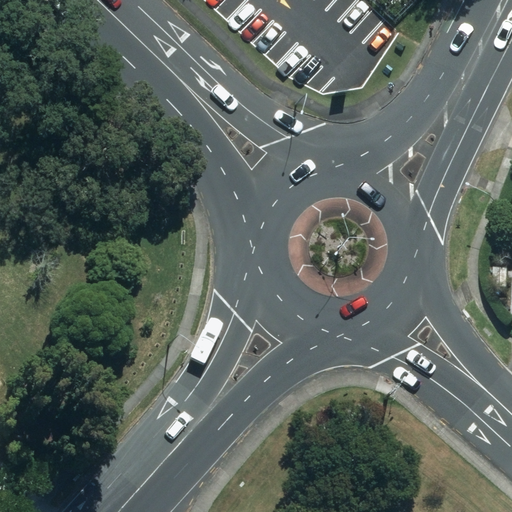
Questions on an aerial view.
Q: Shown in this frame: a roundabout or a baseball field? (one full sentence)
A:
I can see a roundabout in this picture.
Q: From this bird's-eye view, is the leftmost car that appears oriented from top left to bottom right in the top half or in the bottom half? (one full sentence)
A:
Seen from above, the leftmost car that appears oriented from top left to bottom right lies in the top half of the view.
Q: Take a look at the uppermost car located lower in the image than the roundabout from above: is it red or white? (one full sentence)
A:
The uppermost car located lower in the image than the roundabout looks red in the image.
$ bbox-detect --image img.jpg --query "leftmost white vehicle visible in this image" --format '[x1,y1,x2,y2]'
[165,412,192,441]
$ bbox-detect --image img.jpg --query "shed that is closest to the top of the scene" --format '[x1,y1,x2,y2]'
[492,266,508,288]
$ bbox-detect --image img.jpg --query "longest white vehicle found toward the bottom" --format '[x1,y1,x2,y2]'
[188,318,223,366]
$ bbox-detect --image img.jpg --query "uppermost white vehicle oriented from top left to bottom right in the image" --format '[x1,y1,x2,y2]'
[210,83,237,109]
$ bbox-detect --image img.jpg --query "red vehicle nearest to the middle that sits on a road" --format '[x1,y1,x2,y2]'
[340,296,367,319]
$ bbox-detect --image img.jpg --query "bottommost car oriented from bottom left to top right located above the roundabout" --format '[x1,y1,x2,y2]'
[289,160,316,184]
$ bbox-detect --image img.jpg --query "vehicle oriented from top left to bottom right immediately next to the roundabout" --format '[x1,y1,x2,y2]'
[357,182,384,208]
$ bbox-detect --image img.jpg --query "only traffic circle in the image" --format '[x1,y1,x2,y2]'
[290,198,387,296]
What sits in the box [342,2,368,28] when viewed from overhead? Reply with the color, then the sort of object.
white car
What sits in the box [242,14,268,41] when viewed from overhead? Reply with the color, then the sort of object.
red car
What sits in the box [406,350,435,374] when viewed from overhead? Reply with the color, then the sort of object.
white car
